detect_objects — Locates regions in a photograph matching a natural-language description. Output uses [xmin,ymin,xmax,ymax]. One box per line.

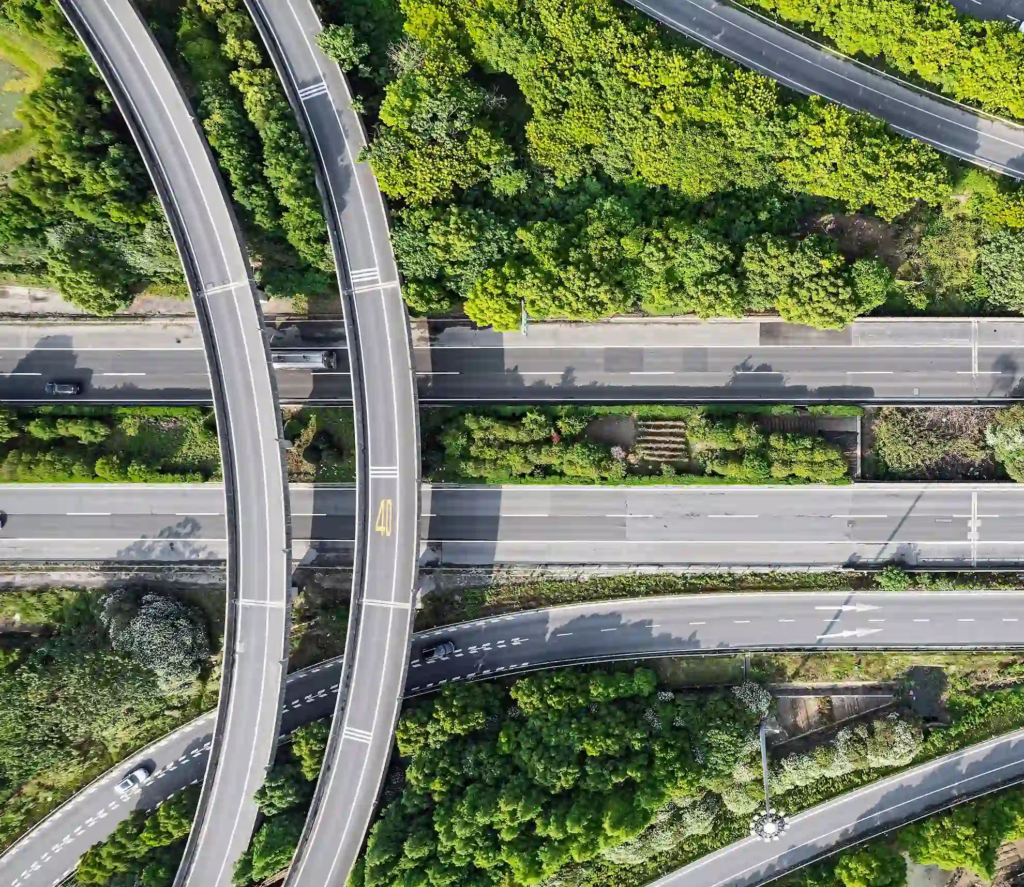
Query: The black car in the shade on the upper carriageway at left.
[46,380,82,396]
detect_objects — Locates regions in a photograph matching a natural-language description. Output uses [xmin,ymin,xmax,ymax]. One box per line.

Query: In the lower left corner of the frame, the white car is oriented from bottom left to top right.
[114,766,151,795]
